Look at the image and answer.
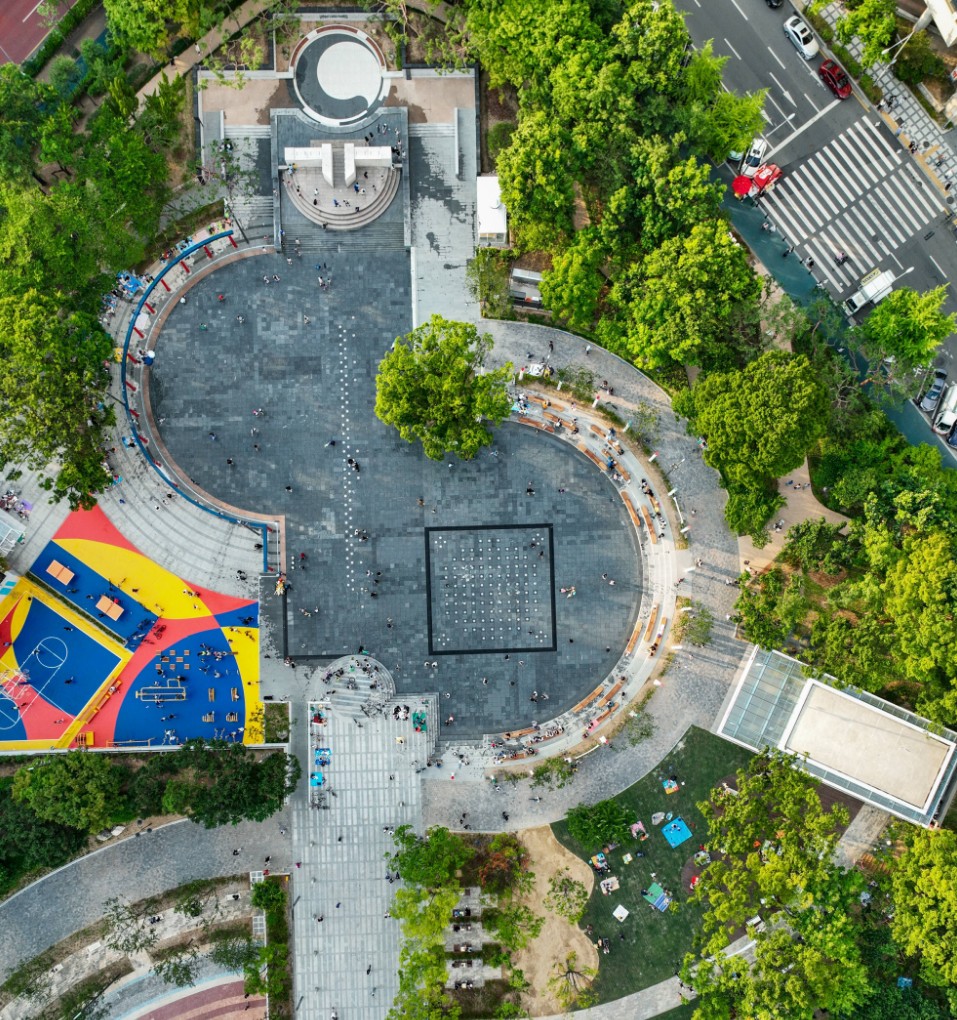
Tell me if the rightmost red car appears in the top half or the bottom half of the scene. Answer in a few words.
top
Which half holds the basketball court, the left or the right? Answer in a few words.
left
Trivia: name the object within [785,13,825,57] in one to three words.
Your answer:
car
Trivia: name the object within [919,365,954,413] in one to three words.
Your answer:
car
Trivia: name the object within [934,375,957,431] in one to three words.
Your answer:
truck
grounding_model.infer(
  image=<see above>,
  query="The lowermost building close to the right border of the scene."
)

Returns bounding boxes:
[709,645,957,829]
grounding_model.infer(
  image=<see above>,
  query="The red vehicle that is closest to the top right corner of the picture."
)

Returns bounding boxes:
[819,56,856,98]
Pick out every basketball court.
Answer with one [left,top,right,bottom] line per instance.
[0,575,132,751]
